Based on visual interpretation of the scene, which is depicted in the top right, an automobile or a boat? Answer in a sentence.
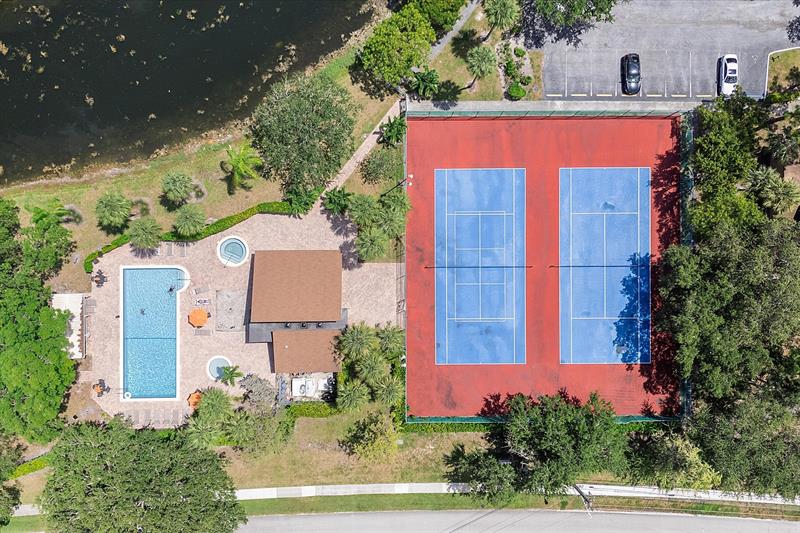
You can see an automobile in the top right.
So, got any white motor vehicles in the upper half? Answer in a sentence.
Yes, looking in the upper half, one can make out a white motor vehicle.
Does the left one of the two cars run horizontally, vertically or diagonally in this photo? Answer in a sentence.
The left one of the two cars is laid out vertically.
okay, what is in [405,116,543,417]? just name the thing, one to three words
tennis court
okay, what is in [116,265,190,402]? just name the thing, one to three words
swimming pool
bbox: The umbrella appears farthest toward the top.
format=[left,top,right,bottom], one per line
[189,308,209,327]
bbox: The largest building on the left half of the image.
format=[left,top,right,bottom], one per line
[248,250,348,373]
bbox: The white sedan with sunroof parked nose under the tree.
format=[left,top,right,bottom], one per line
[718,55,739,96]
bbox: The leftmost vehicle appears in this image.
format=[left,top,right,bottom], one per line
[623,53,642,95]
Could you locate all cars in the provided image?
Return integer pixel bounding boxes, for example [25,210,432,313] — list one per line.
[718,55,739,96]
[623,53,642,95]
